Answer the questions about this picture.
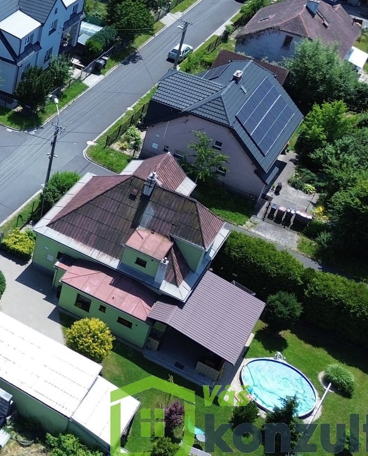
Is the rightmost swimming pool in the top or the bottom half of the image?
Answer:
bottom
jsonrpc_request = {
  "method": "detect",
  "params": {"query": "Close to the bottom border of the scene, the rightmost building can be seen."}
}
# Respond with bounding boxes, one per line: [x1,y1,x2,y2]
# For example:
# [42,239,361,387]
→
[67,375,153,456]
